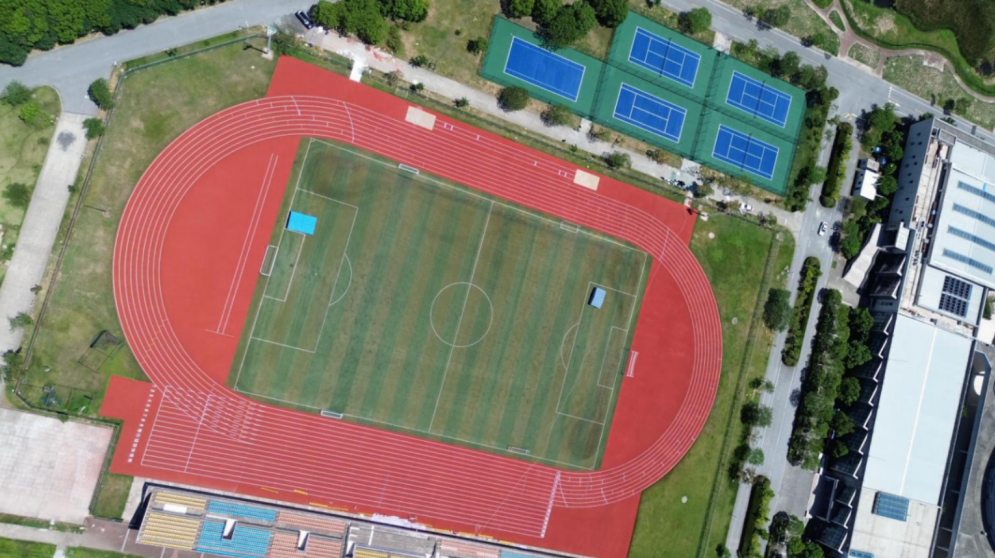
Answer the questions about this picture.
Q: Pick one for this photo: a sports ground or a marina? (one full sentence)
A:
This looks like a sports ground.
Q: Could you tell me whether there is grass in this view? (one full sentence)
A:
Yes, there is grass in the image.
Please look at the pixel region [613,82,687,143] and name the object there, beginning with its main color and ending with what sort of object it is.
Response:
blue tennis court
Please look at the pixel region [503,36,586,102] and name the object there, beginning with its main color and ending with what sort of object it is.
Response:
blue tennis court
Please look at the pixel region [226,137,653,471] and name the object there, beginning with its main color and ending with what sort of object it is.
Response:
green soccer field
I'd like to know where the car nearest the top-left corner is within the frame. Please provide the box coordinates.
[296,11,313,28]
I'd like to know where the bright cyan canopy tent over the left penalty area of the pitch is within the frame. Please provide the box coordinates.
[287,211,316,234]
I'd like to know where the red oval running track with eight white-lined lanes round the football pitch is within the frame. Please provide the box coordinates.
[98,52,723,558]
